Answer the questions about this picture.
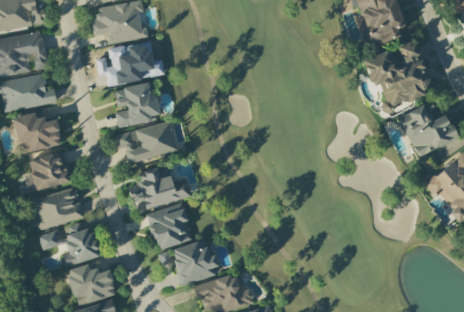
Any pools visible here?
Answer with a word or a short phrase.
Yes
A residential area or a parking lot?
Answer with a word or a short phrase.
residential area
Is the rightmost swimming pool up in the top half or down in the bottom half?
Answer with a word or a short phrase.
bottom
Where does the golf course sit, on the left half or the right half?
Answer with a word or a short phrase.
right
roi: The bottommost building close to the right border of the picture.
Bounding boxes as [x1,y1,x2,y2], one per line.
[424,151,464,222]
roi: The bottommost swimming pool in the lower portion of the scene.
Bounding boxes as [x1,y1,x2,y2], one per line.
[244,276,266,301]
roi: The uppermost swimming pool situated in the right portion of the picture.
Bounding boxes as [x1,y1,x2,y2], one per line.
[340,11,364,43]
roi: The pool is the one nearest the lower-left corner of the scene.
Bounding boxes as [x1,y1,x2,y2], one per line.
[42,244,68,271]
